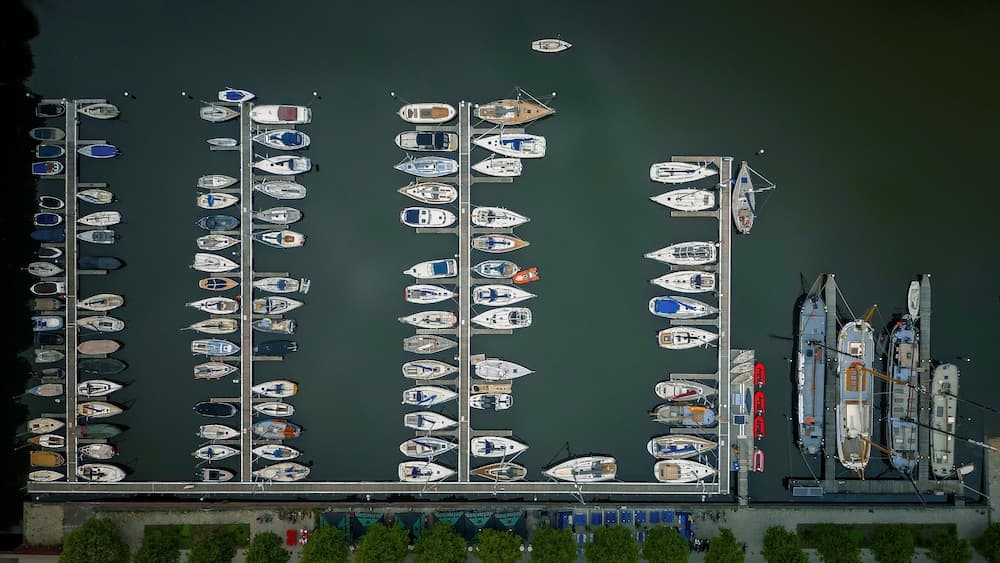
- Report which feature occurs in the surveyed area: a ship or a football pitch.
ship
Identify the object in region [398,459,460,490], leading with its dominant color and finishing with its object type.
white boat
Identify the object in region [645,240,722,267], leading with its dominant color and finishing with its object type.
white boat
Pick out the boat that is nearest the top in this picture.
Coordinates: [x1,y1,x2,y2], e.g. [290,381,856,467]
[532,37,572,54]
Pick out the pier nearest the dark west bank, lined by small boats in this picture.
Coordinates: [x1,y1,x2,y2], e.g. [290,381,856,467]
[41,100,108,482]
